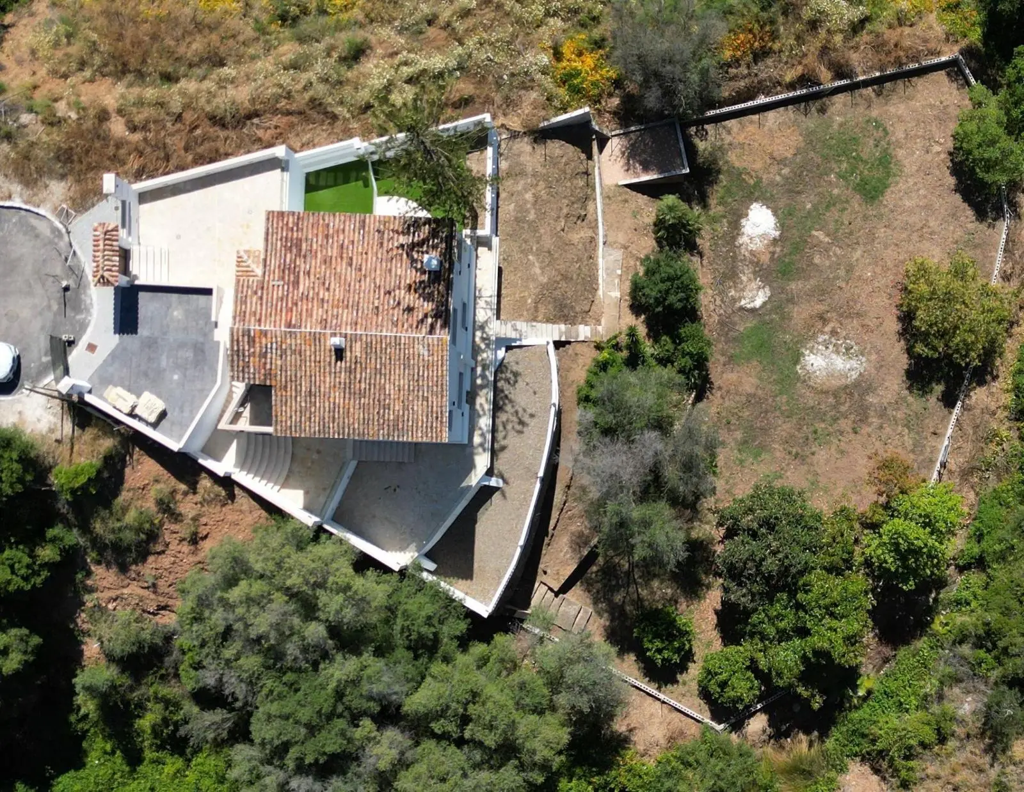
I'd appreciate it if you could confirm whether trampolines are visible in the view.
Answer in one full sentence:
No, no trampoline is visible in the view.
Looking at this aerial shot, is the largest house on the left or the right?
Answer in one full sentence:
It is on the left.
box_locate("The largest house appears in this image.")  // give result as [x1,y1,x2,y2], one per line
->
[229,211,477,445]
